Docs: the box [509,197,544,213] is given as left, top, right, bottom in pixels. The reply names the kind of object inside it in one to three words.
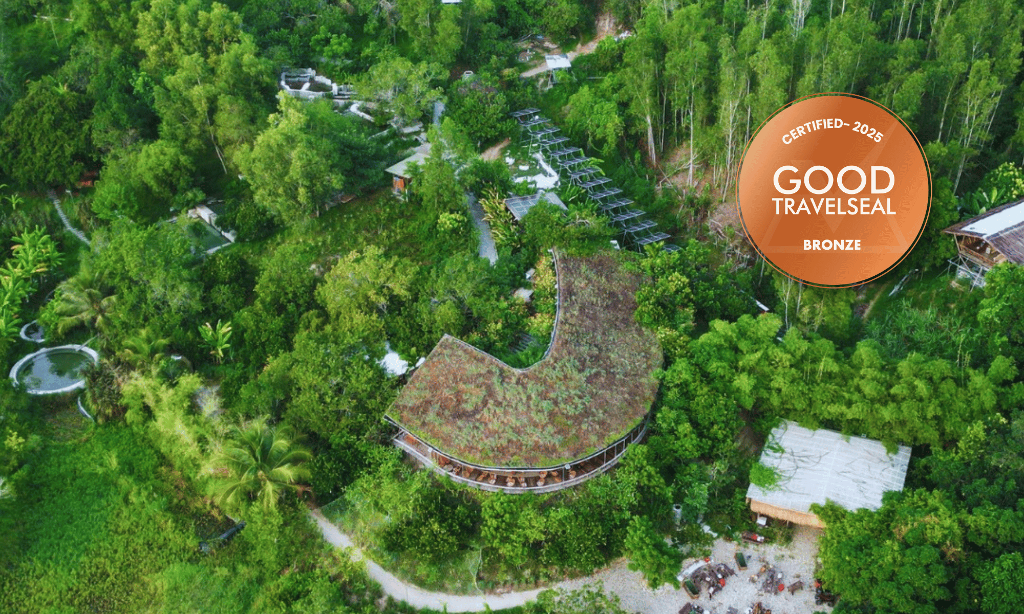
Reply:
solar array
